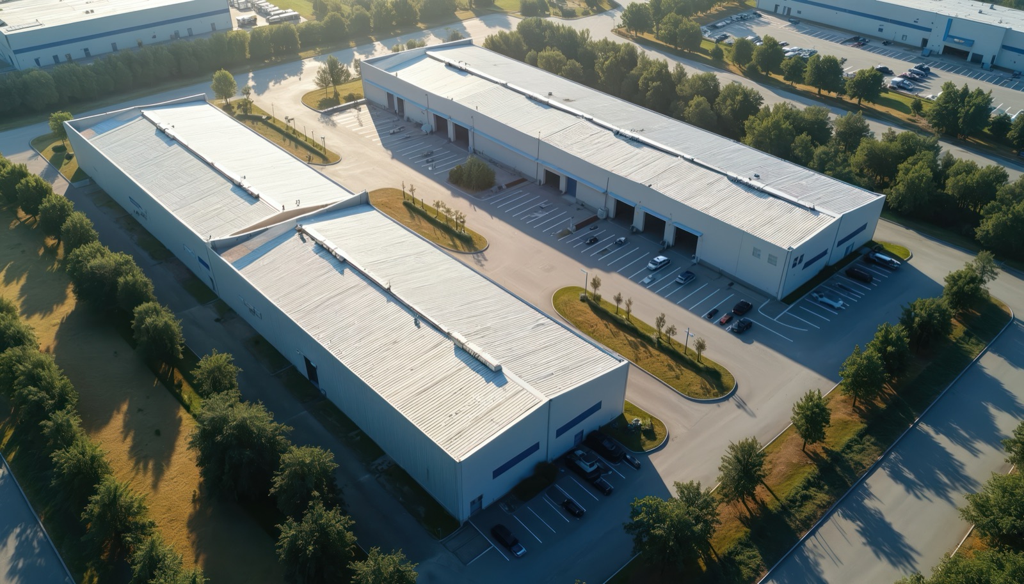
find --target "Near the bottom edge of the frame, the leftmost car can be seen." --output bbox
[484,515,531,559]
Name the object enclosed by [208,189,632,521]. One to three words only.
warehouse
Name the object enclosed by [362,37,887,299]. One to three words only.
warehouse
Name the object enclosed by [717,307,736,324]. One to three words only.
car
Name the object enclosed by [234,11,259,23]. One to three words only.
vehicle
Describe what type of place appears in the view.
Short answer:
industrial area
